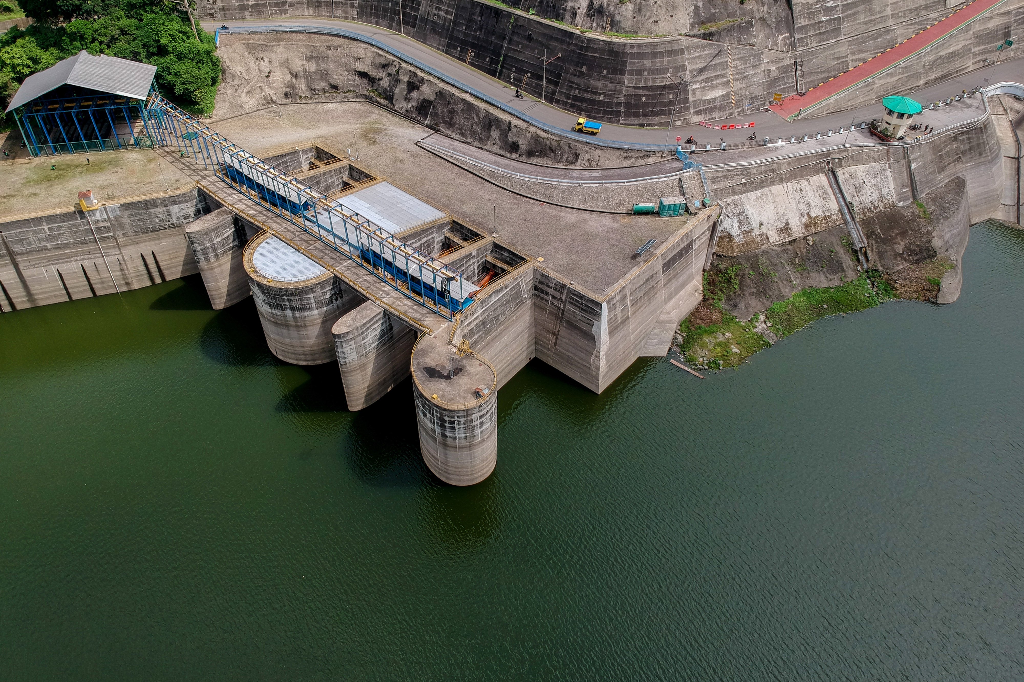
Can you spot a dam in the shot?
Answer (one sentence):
Yes, there's a dam down there.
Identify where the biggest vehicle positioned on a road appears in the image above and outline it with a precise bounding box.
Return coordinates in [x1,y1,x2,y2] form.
[574,118,600,134]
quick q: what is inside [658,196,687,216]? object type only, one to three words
water tank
